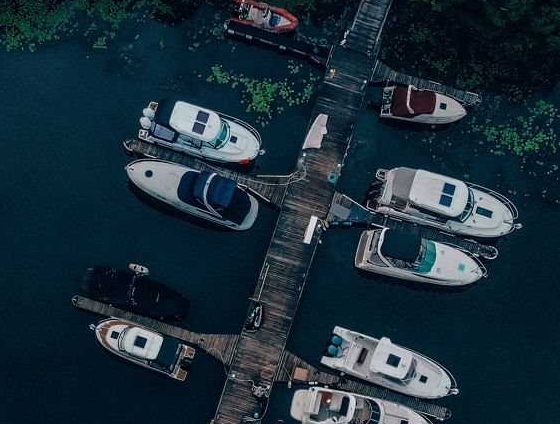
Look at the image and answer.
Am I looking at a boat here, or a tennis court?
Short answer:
boat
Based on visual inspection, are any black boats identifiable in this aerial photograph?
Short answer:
Yes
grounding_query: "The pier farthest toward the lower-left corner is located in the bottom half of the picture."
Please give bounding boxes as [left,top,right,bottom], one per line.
[71,294,240,367]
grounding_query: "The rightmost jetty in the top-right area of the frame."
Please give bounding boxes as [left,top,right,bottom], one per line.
[371,61,480,107]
